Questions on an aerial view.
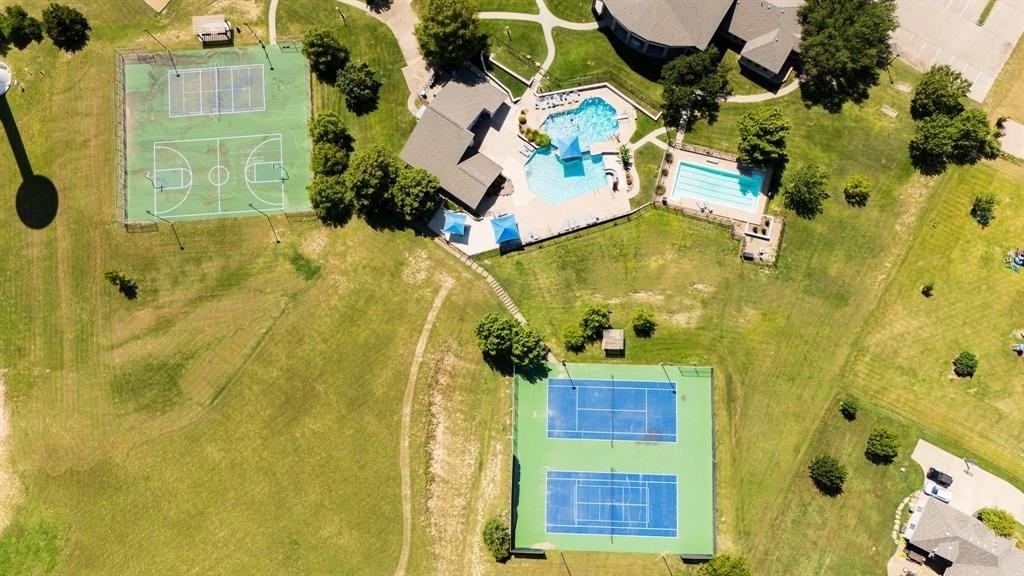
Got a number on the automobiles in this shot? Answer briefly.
2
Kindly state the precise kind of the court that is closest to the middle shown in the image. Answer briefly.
tennis court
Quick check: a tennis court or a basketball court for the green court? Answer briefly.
basketball court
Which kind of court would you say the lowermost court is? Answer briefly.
tennis court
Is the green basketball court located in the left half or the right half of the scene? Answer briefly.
left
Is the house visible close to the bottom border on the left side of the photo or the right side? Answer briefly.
right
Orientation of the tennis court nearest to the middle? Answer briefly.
from left to right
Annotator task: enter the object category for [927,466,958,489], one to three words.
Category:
car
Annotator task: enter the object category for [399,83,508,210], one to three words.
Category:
building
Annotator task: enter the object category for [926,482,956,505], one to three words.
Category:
car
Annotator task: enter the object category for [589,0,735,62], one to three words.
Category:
building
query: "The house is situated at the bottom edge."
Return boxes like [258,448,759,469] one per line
[902,495,1024,576]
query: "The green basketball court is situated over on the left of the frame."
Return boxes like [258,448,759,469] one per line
[154,134,284,217]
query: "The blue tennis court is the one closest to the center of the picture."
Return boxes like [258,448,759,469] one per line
[548,378,678,443]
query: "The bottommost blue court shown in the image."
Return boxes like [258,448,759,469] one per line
[545,470,679,538]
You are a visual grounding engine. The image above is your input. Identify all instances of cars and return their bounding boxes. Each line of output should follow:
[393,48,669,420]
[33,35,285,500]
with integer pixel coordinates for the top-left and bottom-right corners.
[926,482,956,505]
[927,466,958,489]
